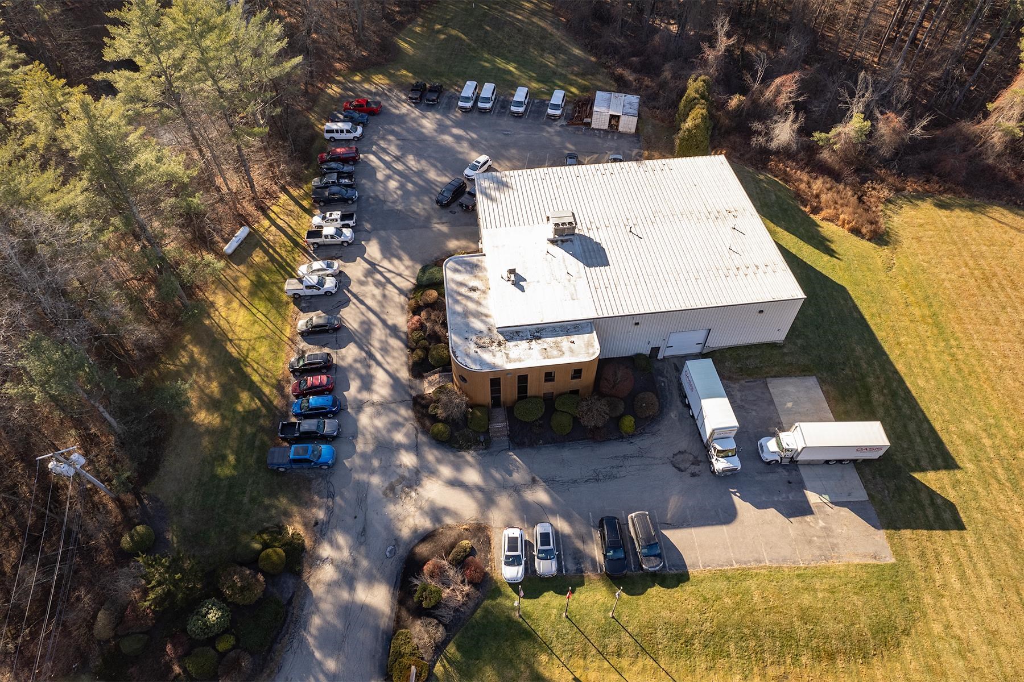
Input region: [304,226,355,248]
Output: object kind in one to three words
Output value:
truck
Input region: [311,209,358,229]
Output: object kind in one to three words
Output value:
vehicle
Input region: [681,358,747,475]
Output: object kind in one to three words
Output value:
truck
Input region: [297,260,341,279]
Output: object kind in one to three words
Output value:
car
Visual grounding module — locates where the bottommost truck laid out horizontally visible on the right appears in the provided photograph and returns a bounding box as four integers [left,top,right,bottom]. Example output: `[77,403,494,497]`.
[757,421,890,464]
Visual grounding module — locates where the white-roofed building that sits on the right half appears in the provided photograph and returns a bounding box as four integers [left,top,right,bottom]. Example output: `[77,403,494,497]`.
[442,154,806,412]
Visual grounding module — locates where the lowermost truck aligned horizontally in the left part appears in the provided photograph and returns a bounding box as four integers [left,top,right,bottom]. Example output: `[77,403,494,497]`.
[265,442,338,472]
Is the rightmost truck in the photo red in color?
No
